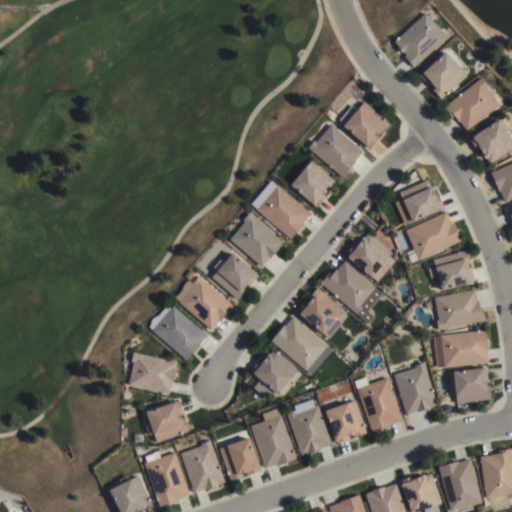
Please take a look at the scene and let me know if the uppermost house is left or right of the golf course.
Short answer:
to its right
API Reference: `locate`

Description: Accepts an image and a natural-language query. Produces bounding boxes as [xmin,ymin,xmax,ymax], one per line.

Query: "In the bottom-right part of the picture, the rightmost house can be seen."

[478,450,512,512]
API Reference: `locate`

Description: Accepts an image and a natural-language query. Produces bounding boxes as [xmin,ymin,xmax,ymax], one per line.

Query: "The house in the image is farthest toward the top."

[394,14,454,67]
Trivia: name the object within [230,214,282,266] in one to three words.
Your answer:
house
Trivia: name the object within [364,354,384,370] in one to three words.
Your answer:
swimming pool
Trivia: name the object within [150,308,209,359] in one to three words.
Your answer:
house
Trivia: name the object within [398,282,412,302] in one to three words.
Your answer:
swimming pool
